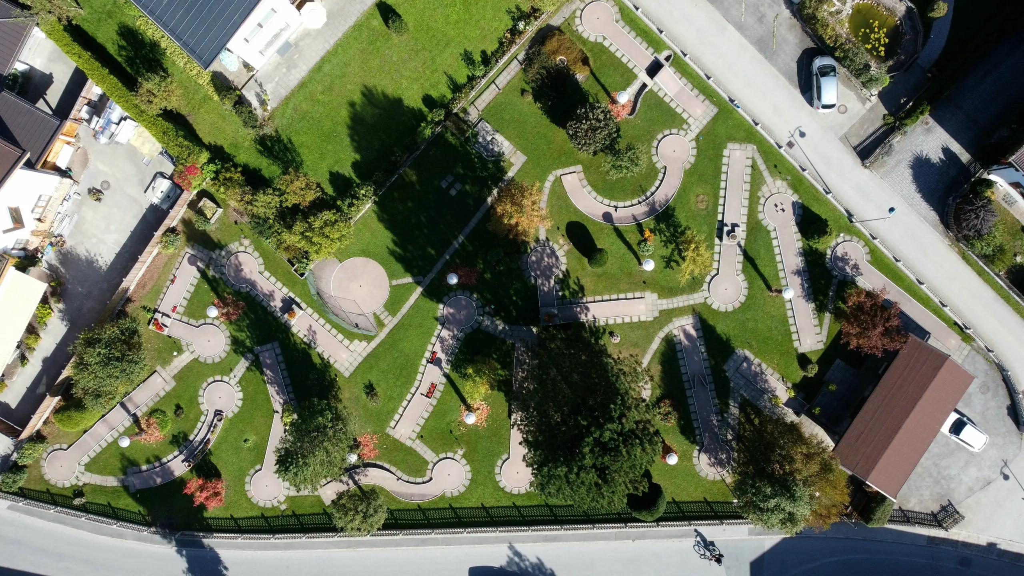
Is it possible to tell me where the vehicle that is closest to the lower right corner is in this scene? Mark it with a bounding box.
[939,412,993,457]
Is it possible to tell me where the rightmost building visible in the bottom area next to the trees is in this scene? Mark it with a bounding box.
[834,333,976,502]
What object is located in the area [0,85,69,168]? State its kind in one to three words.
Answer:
shed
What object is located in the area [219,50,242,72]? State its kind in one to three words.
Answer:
umbrella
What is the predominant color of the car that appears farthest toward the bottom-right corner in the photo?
white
